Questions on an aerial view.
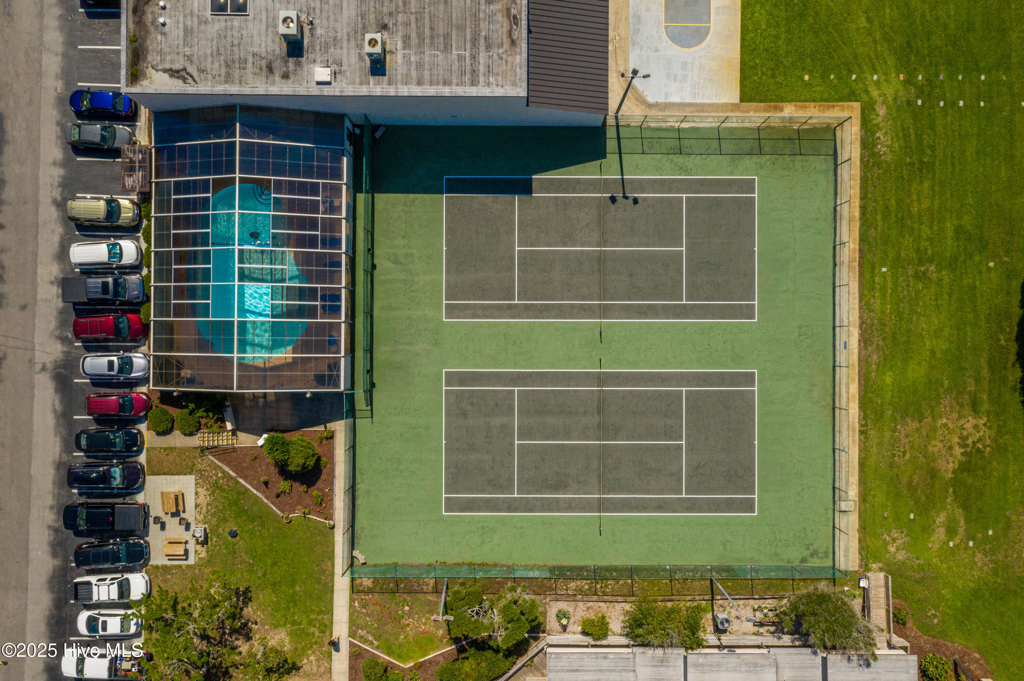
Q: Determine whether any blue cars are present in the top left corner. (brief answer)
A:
Yes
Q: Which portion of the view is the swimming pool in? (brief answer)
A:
left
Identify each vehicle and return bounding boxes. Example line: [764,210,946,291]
[73,310,147,342]
[77,425,146,456]
[68,236,144,269]
[61,272,146,305]
[73,573,151,607]
[81,350,149,382]
[76,538,151,571]
[84,388,154,420]
[71,83,137,117]
[65,193,142,226]
[65,502,148,537]
[80,0,122,13]
[80,608,144,642]
[67,118,138,149]
[67,460,146,493]
[65,648,148,681]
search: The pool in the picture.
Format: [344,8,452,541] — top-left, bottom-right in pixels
[189,181,311,362]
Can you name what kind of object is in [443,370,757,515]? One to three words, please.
tennis court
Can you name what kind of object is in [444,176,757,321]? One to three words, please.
tennis court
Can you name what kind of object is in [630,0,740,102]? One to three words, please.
basketball court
